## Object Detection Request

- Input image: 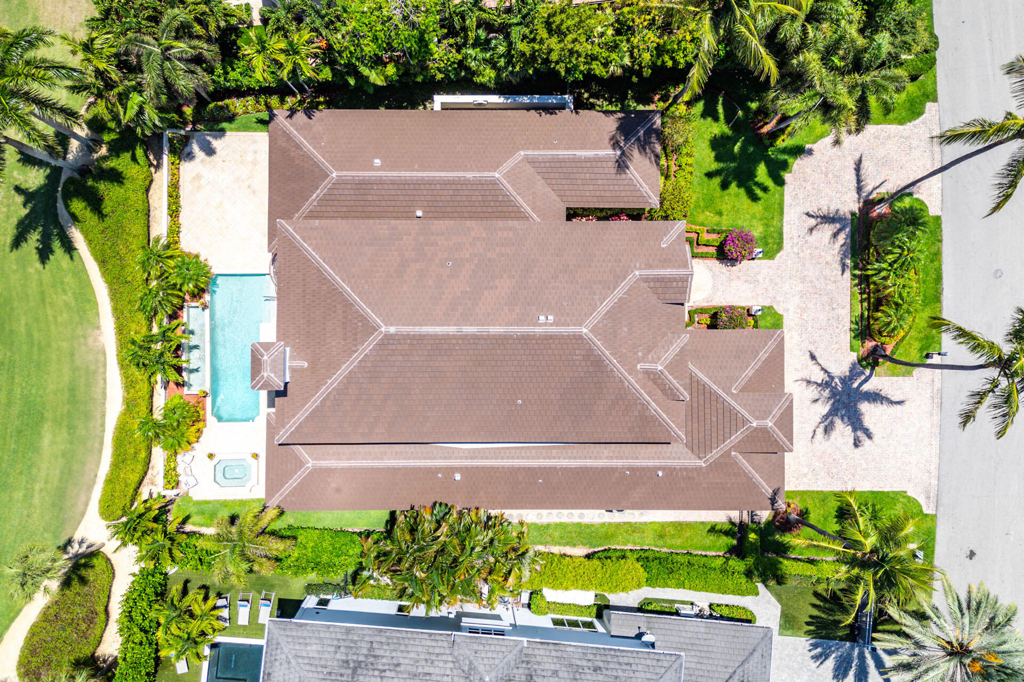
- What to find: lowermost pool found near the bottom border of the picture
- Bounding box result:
[203,638,263,682]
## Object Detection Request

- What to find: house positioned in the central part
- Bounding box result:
[249,107,795,513]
